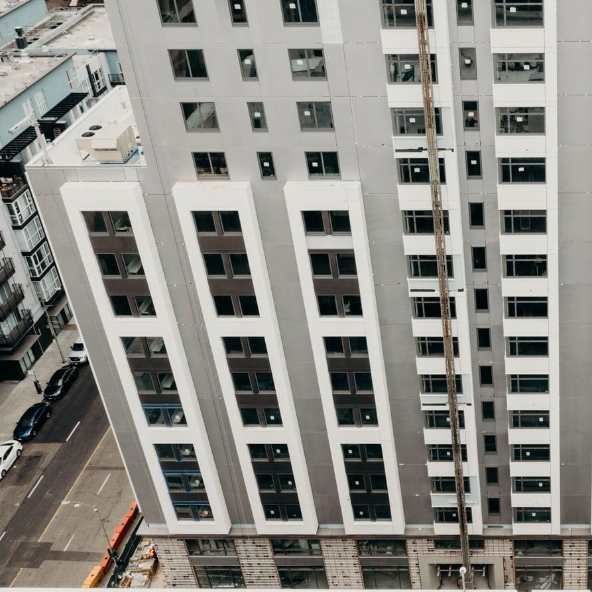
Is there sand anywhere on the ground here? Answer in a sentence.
No, there is no sand in the image.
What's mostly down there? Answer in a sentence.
Most of the picture is covered by buildings.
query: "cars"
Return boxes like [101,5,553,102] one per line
[64,334,86,362]
[0,439,26,477]
[16,402,54,435]
[44,366,79,397]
